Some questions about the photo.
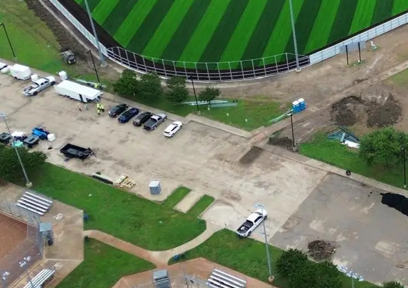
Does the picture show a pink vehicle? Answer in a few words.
No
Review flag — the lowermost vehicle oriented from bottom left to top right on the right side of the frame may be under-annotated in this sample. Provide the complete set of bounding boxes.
[235,209,267,236]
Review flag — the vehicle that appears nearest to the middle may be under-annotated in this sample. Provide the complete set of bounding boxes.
[163,122,183,137]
